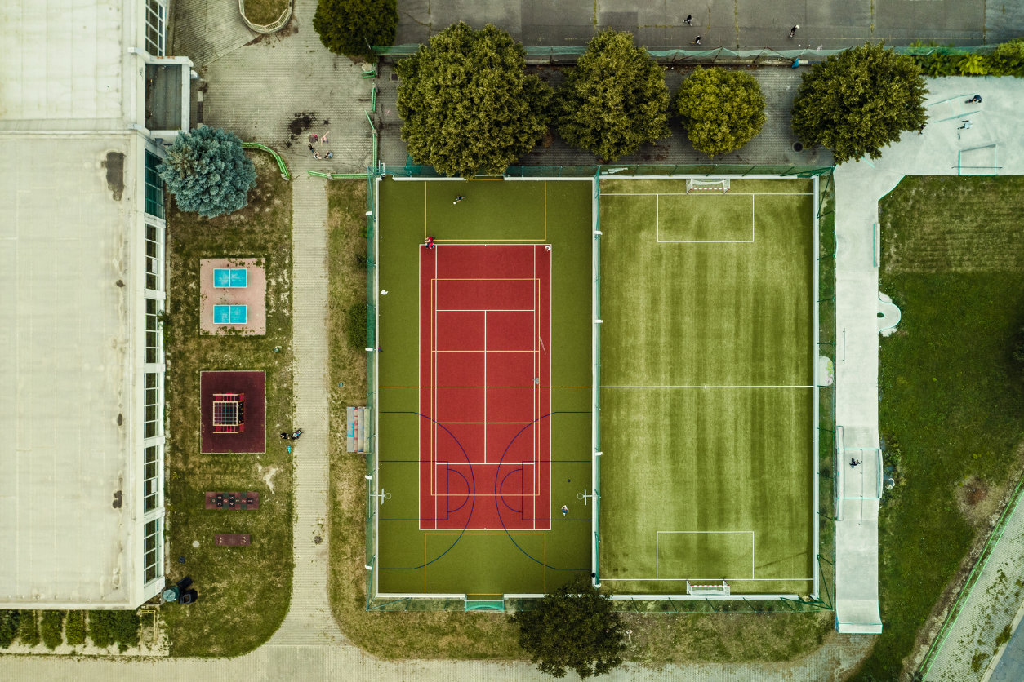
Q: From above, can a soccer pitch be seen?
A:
Yes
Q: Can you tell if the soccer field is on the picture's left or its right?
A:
right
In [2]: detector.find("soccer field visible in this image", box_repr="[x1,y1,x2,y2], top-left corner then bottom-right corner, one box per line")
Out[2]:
[594,175,815,597]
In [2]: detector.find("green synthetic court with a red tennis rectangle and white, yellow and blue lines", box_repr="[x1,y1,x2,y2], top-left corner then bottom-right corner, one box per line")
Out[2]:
[378,169,594,604]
